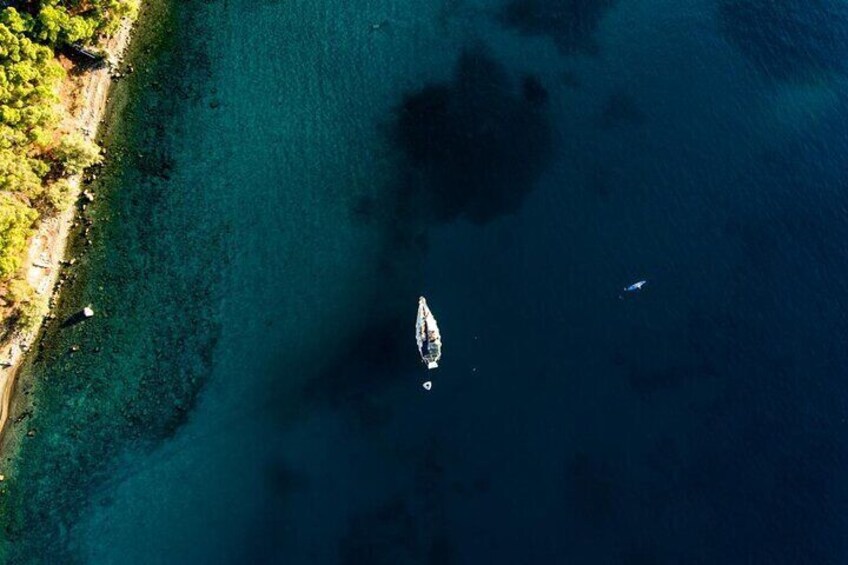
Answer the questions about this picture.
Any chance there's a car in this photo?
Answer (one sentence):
No, the frame has no car in it.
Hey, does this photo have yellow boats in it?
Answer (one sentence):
No, no yellow boat is visible in the view.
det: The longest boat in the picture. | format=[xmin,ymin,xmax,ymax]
[414,294,441,369]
